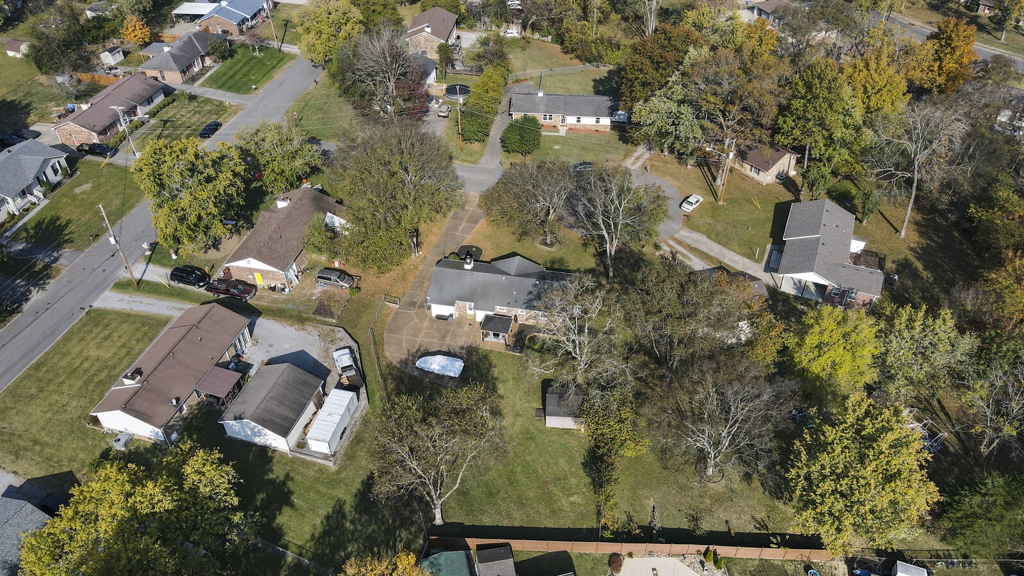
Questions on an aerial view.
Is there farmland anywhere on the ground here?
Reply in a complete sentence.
No, there is no farmland in the image.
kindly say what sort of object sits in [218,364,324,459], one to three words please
building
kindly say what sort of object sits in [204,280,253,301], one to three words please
truck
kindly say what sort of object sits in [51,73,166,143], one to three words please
house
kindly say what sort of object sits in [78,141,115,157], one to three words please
vehicle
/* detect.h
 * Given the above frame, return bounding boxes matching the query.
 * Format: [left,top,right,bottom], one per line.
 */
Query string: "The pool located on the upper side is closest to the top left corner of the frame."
[443,86,470,105]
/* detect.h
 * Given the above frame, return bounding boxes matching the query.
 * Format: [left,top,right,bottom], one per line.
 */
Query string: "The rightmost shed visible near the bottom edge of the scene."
[476,545,516,576]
